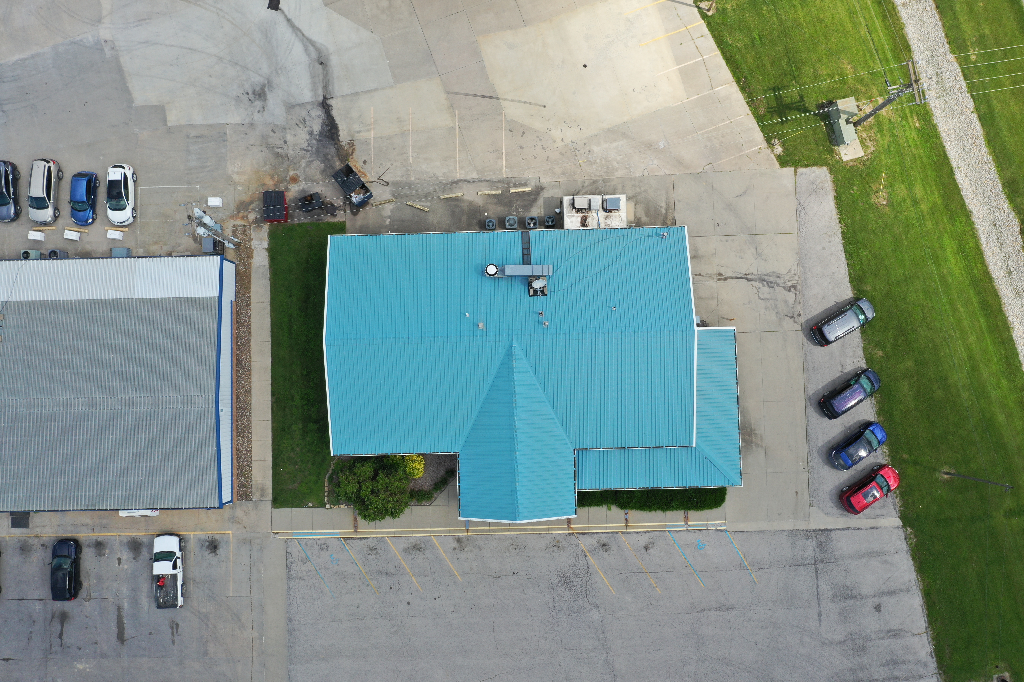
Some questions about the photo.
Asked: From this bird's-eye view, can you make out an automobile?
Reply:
Yes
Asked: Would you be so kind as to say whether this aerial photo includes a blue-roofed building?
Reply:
Yes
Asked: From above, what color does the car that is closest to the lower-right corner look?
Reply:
red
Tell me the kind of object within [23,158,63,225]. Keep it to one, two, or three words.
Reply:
car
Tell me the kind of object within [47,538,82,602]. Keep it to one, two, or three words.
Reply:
car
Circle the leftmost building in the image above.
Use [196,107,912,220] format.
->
[0,255,238,513]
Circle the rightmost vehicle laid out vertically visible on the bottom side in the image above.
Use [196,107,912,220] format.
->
[149,532,186,613]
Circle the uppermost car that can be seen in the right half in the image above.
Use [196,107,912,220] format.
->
[810,299,874,348]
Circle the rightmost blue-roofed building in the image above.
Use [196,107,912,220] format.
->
[323,224,744,524]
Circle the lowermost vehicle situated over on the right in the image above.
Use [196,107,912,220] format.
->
[837,467,899,517]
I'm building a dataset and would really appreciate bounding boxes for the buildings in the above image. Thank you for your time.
[323,224,744,524]
[0,255,238,513]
